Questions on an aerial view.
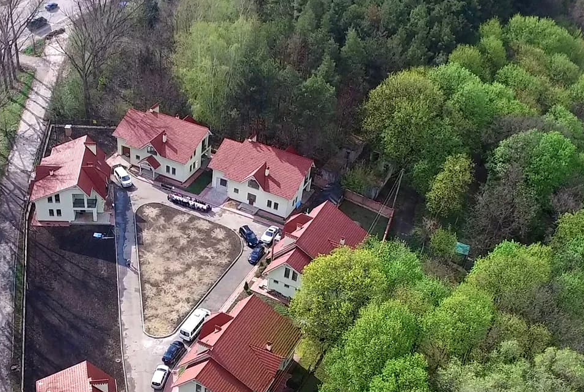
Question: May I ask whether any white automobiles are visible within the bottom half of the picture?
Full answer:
Yes, within the bottom half of the picture there is a white automobile.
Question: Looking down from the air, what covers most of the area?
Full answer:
Most of the picture is covered by trees.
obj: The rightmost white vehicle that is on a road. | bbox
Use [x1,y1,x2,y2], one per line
[262,227,278,242]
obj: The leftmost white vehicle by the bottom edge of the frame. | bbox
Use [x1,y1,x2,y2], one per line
[151,368,168,387]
